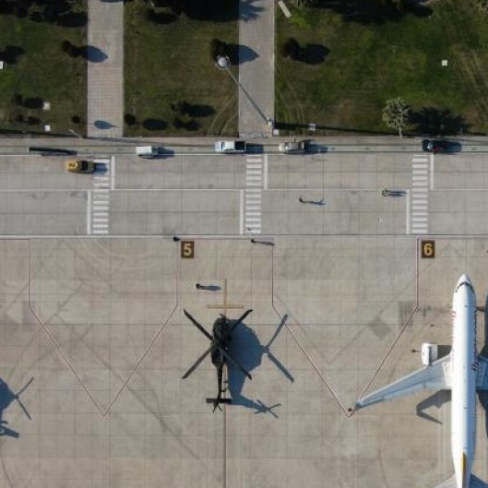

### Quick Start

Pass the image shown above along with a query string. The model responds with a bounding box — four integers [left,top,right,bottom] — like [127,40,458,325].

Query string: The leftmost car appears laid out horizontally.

[63,158,93,171]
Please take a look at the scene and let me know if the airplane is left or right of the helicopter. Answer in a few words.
on its right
